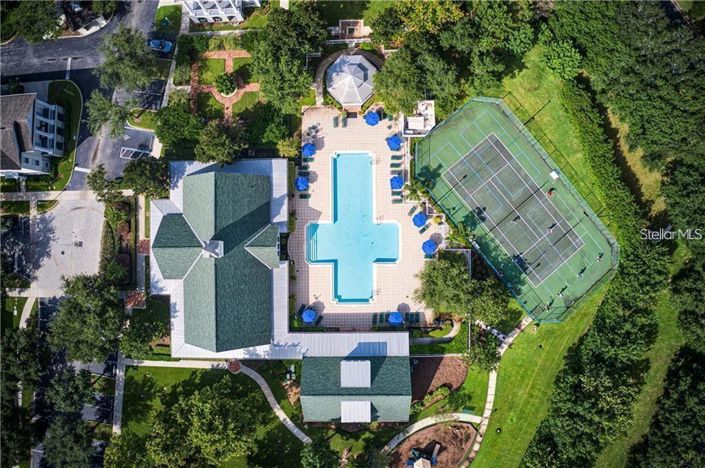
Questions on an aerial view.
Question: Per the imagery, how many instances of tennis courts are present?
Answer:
1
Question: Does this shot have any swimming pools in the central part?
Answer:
Yes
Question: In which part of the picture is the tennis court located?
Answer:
right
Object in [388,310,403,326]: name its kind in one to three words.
umbrella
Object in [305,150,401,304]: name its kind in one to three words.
swimming pool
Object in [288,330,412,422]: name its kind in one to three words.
building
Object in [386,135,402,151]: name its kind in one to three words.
umbrella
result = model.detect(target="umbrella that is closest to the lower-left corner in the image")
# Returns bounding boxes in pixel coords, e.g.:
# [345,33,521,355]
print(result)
[301,308,317,323]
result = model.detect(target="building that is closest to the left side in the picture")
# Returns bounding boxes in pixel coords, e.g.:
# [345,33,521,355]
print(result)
[0,92,67,181]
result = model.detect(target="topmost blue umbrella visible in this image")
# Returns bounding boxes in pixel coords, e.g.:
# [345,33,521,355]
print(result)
[364,111,379,126]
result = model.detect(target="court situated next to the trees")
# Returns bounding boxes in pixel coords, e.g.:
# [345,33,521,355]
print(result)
[414,103,611,319]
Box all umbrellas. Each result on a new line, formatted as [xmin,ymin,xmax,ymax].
[388,310,403,326]
[294,176,310,192]
[302,142,317,158]
[364,111,379,126]
[301,308,317,323]
[421,239,437,255]
[412,212,428,228]
[386,135,402,151]
[389,175,404,191]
